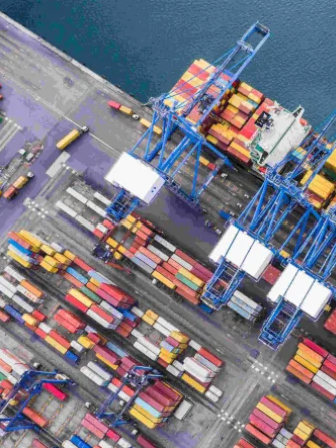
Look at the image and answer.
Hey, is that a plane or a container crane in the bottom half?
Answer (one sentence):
The feature located in the bottom half is a container crane.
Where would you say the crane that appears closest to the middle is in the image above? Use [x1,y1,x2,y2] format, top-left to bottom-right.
[83,212,159,274]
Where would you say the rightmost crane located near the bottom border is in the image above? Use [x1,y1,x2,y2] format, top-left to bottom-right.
[89,361,168,437]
